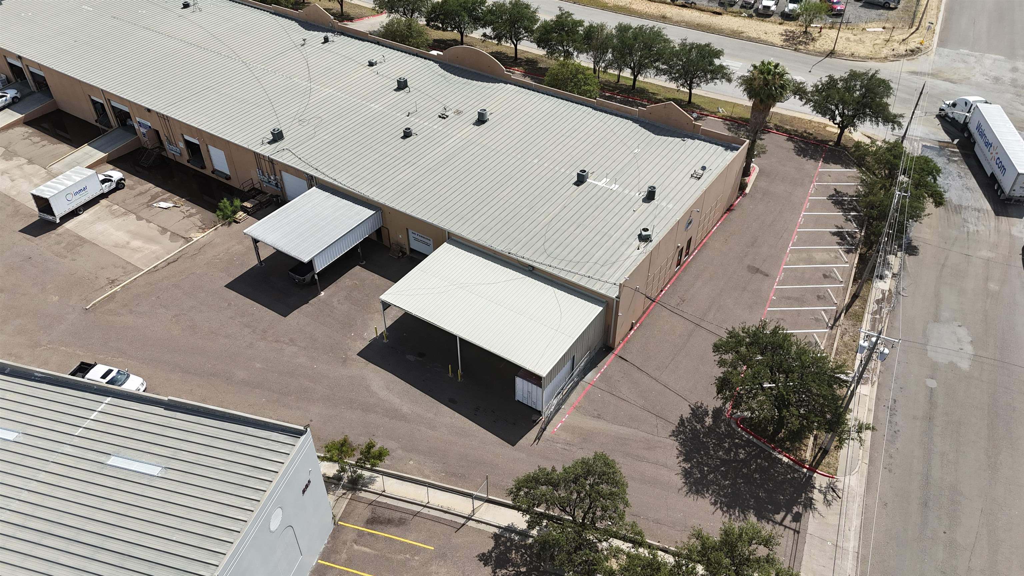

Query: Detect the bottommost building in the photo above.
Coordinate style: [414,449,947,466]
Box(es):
[0,359,333,576]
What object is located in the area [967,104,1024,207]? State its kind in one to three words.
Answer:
trailer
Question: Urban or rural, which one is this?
urban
